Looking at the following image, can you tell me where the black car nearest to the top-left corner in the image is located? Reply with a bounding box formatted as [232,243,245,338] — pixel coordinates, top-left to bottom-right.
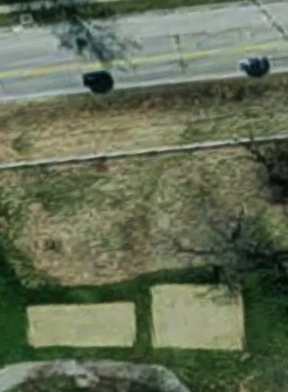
[81,70,113,87]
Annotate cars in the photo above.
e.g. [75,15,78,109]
[240,57,271,73]
[81,70,113,87]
